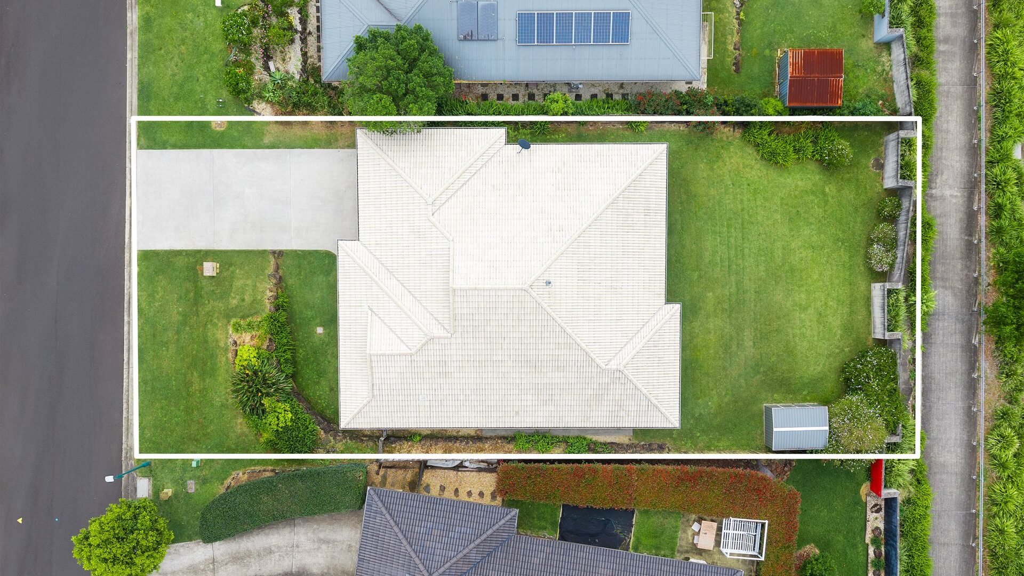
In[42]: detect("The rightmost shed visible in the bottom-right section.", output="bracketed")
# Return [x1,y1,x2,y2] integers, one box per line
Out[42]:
[765,403,831,451]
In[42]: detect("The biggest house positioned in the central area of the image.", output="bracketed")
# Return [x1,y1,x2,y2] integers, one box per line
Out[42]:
[337,127,682,430]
